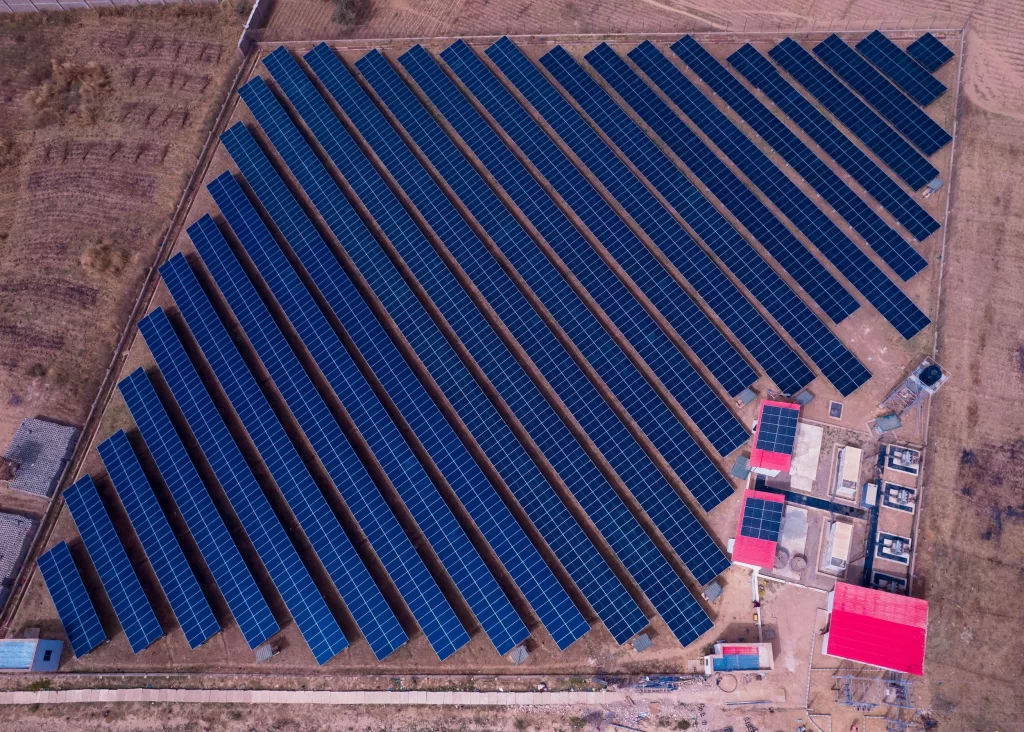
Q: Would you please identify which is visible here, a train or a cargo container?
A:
cargo container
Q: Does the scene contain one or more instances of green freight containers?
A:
No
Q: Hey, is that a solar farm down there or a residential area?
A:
solar farm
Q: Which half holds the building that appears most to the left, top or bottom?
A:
bottom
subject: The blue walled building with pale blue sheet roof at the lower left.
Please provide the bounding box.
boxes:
[0,639,62,672]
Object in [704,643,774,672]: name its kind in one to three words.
building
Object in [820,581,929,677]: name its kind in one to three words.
shed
